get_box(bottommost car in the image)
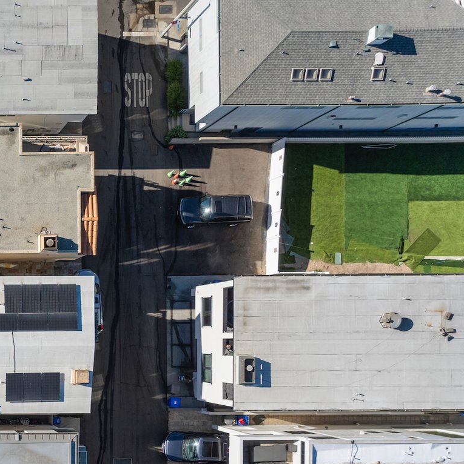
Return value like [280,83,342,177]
[160,431,226,463]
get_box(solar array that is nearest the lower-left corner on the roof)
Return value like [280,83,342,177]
[6,374,59,401]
